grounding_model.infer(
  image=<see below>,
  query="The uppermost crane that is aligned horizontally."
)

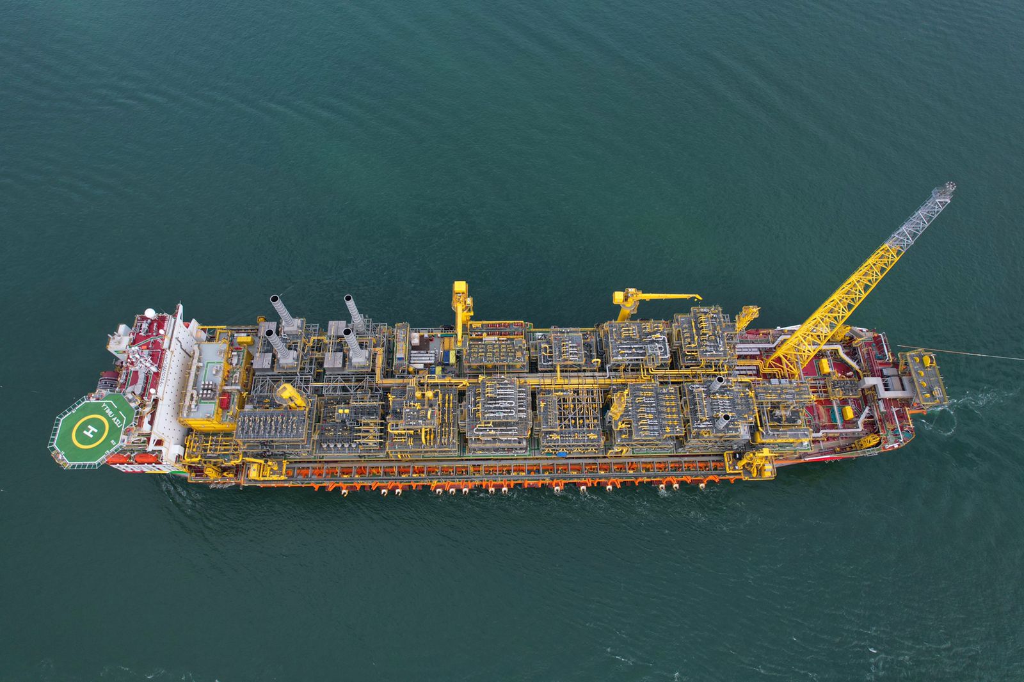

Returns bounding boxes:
[612,286,702,321]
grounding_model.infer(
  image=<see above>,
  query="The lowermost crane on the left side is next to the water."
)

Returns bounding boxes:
[242,457,293,483]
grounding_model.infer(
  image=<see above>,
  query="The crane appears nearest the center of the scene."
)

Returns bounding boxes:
[453,281,474,354]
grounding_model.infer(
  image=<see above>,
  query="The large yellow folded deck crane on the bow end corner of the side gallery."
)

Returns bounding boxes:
[723,446,781,481]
